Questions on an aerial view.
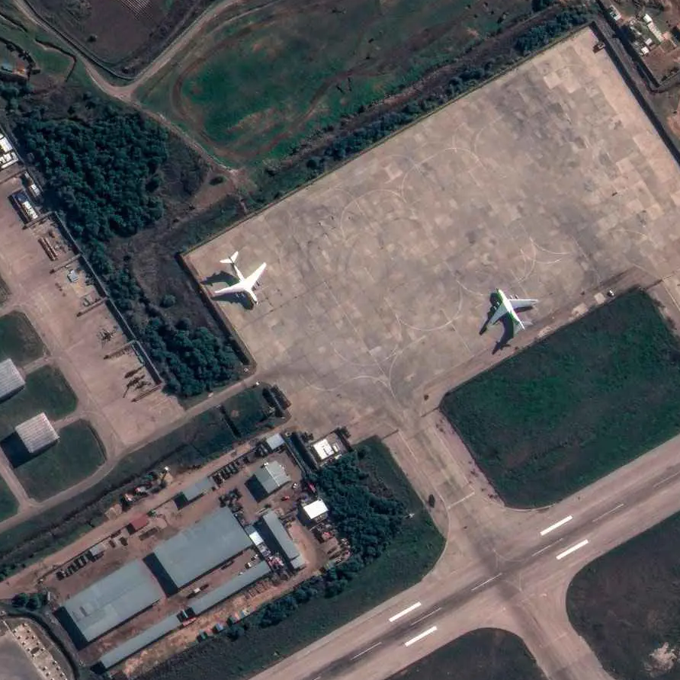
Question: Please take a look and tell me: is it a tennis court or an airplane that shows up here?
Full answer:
There is an airplane in the scene.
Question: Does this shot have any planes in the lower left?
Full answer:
No, in the lower left there is no plane.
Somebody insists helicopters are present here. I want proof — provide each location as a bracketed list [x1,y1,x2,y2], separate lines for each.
[129,363,145,374]
[137,382,151,389]
[98,325,119,343]
[127,374,146,387]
